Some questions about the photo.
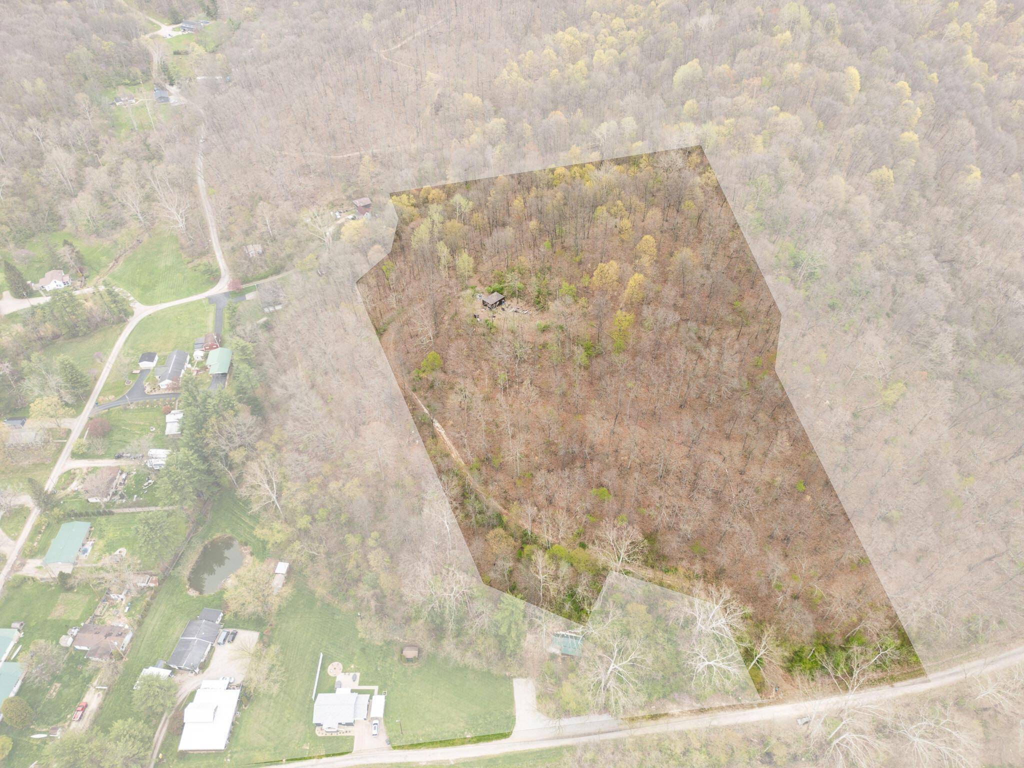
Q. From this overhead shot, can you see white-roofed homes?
Yes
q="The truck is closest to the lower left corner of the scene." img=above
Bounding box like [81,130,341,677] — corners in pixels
[67,698,89,722]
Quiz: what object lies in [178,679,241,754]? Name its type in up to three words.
barn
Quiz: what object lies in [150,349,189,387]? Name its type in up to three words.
house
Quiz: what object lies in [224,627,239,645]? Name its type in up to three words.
car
